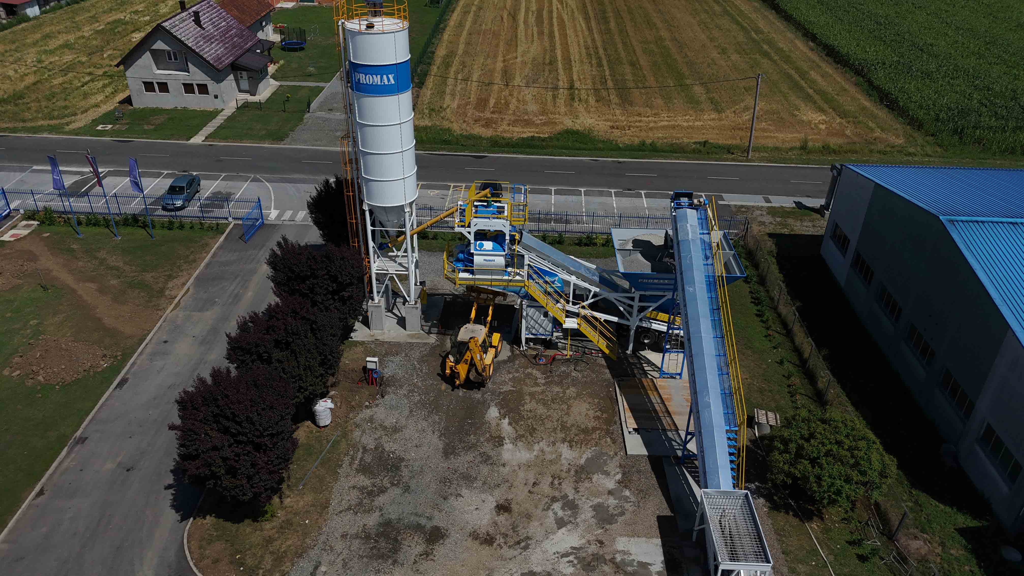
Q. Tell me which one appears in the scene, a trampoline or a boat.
trampoline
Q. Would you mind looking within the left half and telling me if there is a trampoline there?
Yes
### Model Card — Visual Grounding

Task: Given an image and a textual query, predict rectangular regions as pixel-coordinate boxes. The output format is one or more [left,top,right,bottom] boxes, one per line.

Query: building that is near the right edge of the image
[818,162,1024,531]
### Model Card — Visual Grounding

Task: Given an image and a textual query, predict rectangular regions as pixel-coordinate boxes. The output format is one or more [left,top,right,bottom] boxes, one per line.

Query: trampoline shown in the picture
[277,28,306,53]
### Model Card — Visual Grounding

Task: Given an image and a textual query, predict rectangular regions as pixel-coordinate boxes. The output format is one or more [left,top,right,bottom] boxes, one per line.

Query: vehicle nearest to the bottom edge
[441,290,505,387]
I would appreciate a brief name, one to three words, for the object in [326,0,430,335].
silo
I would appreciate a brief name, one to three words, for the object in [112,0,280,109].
house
